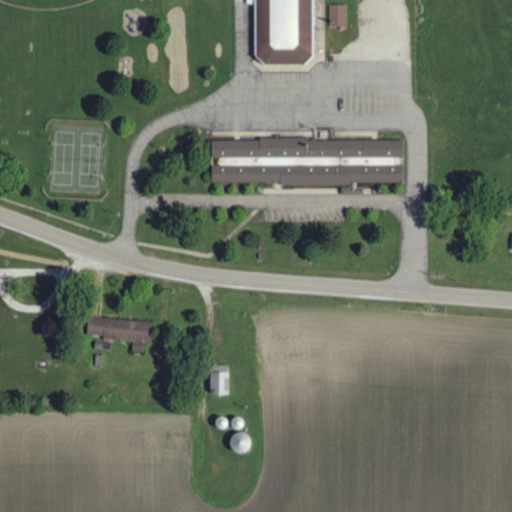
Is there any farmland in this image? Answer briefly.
Yes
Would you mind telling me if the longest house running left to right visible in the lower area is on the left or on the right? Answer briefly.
left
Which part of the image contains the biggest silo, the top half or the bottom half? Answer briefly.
bottom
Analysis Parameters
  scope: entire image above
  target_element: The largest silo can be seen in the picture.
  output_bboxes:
[230,431,252,454]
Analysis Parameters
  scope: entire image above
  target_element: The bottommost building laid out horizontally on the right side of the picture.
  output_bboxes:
[212,138,404,186]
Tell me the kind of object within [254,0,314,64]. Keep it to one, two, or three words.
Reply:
building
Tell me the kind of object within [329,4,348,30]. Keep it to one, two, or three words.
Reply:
shed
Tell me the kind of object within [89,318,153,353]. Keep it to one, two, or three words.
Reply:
house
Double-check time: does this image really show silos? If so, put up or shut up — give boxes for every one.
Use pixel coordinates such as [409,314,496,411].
[215,416,230,431]
[230,416,245,431]
[230,431,252,454]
